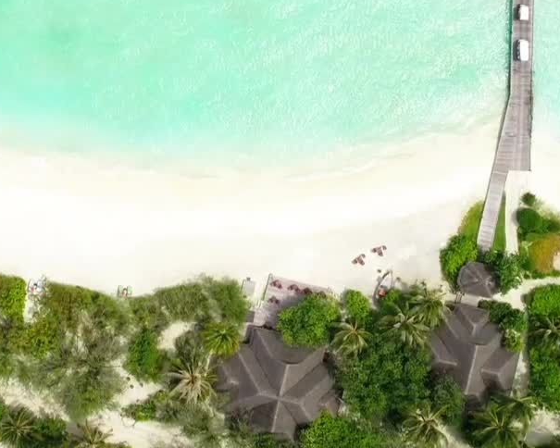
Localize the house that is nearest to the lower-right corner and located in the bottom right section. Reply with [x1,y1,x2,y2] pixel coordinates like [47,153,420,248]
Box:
[429,303,521,405]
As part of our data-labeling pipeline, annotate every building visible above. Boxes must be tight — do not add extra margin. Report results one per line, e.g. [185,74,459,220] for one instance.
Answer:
[429,303,521,405]
[215,325,341,440]
[458,263,496,298]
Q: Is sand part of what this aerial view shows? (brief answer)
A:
Yes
